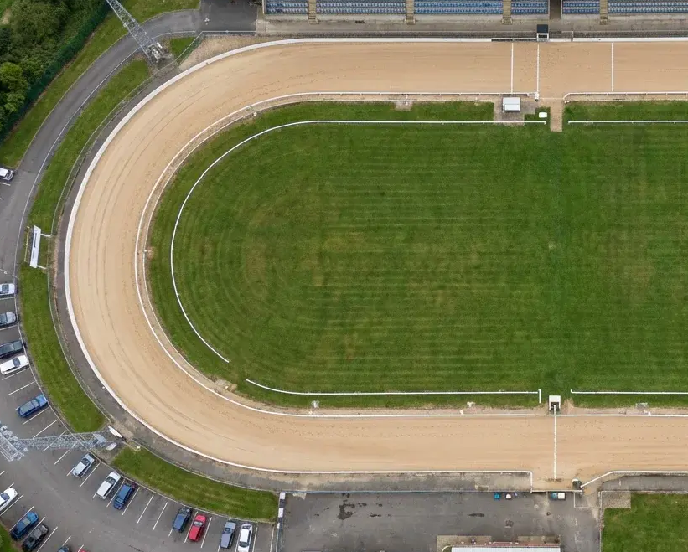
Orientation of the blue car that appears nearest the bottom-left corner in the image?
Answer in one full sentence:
Seen from above, the blue car that appears nearest the bottom-left corner lies diagonally.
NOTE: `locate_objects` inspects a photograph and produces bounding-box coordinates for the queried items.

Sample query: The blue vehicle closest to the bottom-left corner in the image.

[8,510,41,542]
